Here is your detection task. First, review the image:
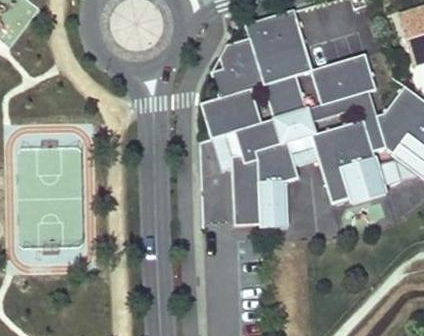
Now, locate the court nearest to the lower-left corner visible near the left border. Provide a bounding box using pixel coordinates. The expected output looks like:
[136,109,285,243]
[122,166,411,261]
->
[16,135,82,264]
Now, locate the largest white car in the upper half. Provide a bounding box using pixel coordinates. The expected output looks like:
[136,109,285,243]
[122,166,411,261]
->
[312,46,326,66]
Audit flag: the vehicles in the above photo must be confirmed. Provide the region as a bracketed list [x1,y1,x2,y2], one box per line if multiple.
[312,46,326,66]
[162,66,171,82]
[240,300,260,310]
[206,231,216,254]
[240,288,260,298]
[240,312,260,322]
[143,236,154,260]
[241,324,261,334]
[240,262,258,272]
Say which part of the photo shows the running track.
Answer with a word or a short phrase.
left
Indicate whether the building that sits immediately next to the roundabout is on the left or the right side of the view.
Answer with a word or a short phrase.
right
